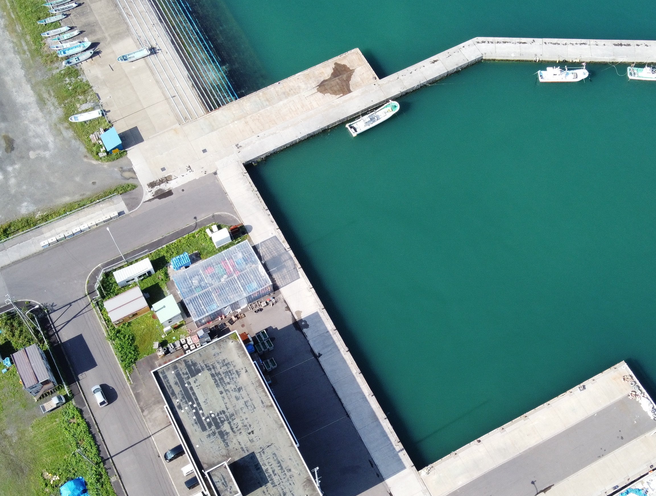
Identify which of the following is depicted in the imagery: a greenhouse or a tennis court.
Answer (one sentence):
The one in the frame is a greenhouse.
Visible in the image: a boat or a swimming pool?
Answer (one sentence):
This aerial view contains a boat.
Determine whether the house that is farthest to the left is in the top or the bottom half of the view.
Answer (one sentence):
Seen from above, the house that is farthest to the left lies in the bottom half of the view.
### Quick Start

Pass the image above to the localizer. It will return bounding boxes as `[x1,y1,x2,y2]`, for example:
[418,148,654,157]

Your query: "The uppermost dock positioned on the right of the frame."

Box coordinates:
[219,38,656,171]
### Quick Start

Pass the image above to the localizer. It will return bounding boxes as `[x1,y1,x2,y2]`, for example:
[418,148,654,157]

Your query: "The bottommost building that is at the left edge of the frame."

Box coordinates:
[12,344,62,407]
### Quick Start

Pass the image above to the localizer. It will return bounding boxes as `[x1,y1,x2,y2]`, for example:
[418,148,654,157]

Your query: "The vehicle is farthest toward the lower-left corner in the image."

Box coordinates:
[41,394,64,411]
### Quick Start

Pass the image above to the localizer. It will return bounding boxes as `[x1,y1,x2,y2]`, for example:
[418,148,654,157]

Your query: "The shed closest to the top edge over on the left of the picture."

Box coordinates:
[98,126,127,158]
